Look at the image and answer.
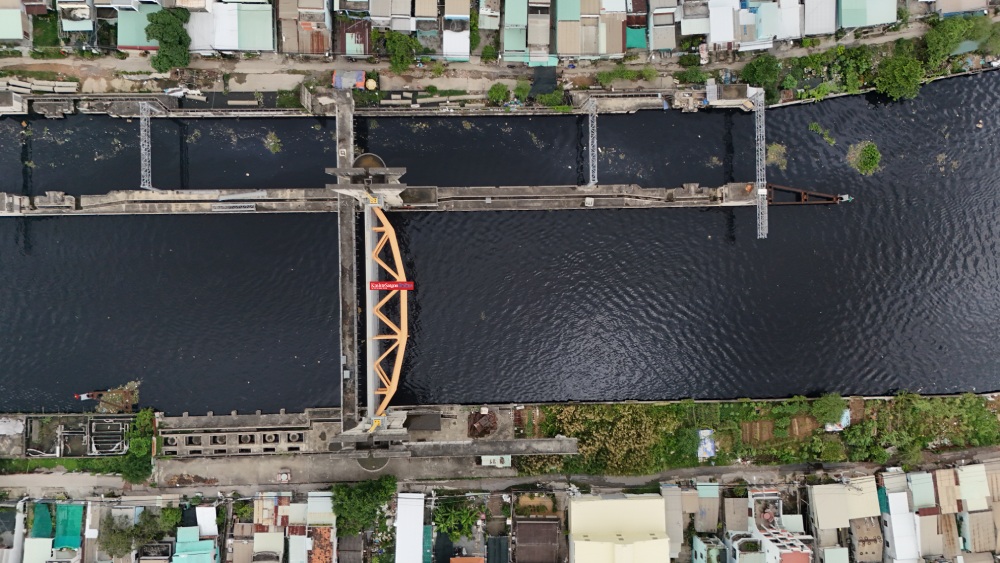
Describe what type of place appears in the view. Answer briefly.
residential area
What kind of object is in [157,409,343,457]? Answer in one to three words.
building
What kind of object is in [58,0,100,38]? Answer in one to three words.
house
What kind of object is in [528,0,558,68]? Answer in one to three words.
house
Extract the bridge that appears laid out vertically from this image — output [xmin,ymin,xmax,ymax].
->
[338,99,361,429]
